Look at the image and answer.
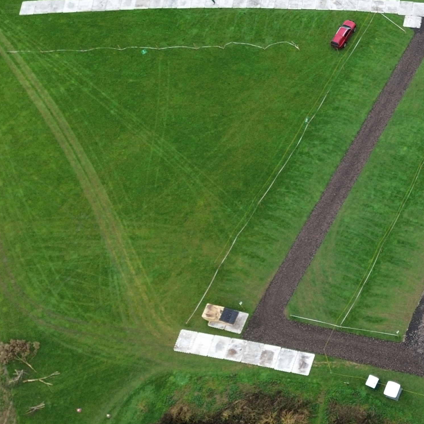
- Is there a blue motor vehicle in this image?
No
